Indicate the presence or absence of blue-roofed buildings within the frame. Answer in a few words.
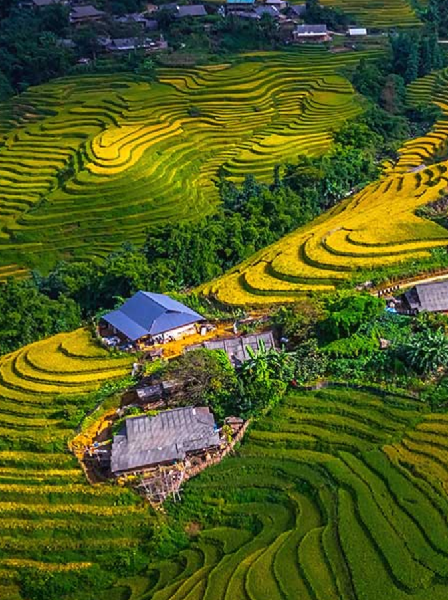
Yes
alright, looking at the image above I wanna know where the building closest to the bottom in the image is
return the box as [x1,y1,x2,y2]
[104,399,223,482]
